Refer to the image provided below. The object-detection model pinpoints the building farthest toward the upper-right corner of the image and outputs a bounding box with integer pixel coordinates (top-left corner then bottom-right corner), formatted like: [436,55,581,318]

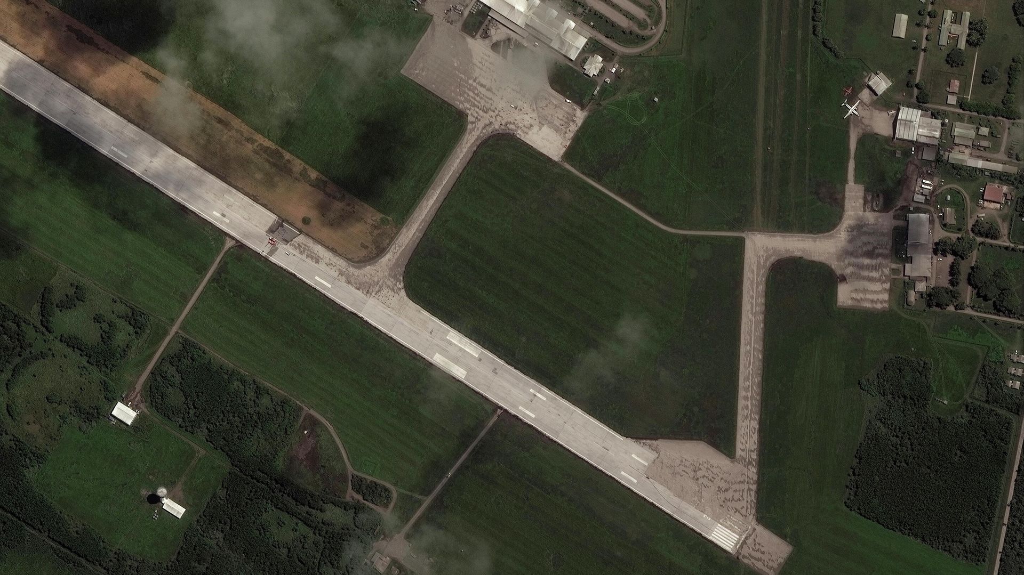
[939,9,971,49]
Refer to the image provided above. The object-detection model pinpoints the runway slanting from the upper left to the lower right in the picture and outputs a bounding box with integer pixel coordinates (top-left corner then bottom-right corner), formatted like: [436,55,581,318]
[0,38,751,555]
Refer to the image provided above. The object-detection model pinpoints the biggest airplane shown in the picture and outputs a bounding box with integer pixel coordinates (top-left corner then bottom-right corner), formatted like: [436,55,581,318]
[841,99,859,118]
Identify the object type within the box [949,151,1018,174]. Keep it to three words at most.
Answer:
building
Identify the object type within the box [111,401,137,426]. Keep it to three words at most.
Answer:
shed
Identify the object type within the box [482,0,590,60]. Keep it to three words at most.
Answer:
building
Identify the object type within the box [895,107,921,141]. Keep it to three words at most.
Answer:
hangar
